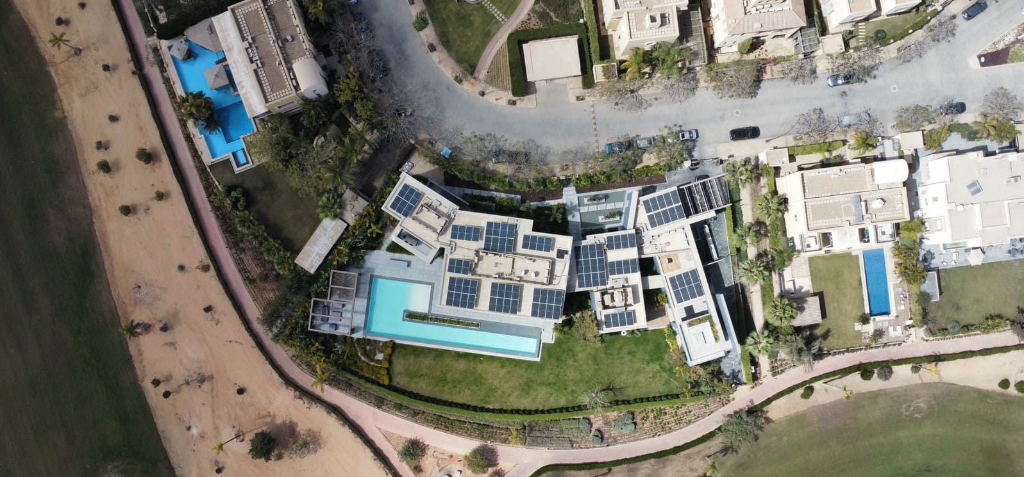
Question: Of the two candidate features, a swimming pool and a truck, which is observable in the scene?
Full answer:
There is a swimming pool in the scene.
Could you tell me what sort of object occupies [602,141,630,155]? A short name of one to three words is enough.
car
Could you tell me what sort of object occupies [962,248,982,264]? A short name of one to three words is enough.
umbrella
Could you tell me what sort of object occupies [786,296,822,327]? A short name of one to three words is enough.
building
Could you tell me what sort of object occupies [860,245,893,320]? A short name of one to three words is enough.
swimming pool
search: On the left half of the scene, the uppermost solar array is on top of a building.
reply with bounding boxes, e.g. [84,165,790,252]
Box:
[390,184,422,217]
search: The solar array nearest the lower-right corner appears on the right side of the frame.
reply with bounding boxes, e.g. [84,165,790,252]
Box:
[670,269,704,304]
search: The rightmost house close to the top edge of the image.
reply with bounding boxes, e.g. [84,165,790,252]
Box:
[856,0,923,30]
